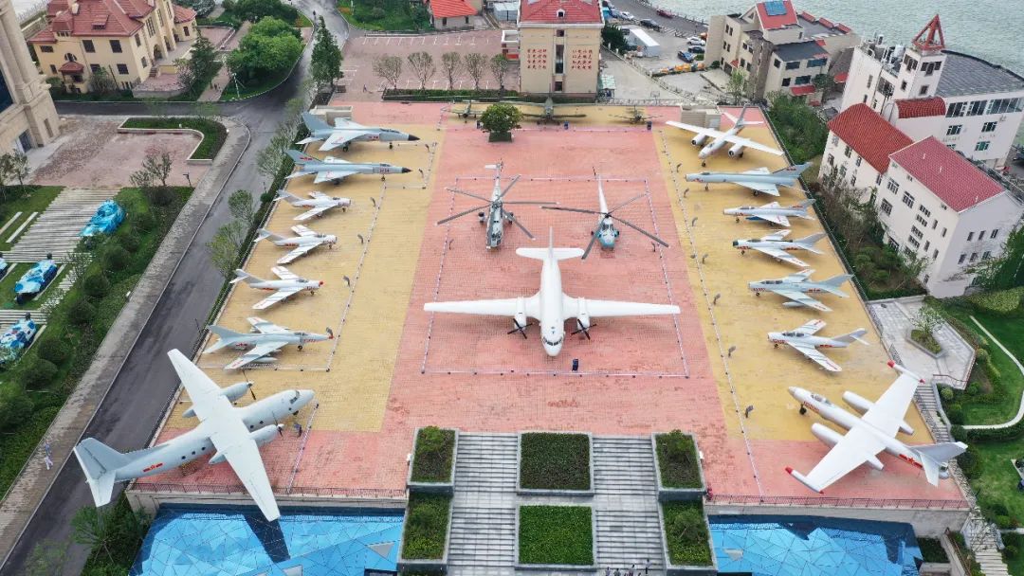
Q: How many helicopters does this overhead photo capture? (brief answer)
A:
2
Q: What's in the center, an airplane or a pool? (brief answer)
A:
airplane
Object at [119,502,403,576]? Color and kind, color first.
blue swimming pool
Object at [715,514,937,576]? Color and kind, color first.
blue swimming pool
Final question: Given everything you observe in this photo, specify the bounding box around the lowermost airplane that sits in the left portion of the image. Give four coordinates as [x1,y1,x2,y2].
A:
[69,343,316,518]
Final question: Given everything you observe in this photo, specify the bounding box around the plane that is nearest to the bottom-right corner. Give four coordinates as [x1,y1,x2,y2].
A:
[778,364,968,498]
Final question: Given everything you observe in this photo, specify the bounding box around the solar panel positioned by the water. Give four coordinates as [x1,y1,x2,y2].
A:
[765,2,789,20]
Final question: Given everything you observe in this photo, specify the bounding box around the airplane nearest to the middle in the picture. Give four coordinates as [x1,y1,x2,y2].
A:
[425,221,680,360]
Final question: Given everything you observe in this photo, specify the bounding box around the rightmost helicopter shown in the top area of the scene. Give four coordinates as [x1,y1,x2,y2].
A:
[537,164,665,258]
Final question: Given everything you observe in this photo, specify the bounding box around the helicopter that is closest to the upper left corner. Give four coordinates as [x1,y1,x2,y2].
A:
[442,158,556,251]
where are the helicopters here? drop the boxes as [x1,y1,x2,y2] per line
[537,164,665,258]
[442,158,556,251]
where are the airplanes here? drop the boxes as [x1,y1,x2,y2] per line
[683,160,812,195]
[667,101,776,163]
[608,98,663,128]
[257,220,339,257]
[439,99,480,124]
[287,151,414,187]
[232,259,325,305]
[740,263,858,308]
[277,183,353,217]
[730,226,830,264]
[514,100,596,133]
[425,221,680,360]
[721,196,815,226]
[778,364,968,498]
[69,343,316,518]
[297,114,420,155]
[206,312,332,361]
[768,311,871,365]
